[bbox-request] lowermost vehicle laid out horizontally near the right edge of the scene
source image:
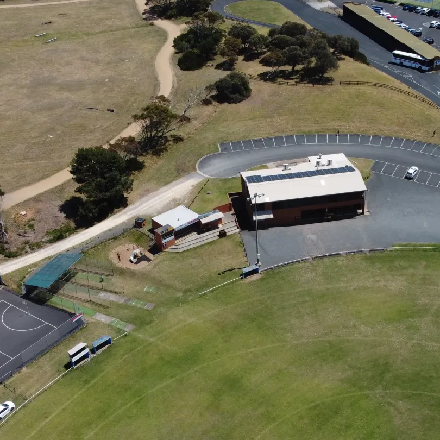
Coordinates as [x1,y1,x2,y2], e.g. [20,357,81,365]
[392,52,431,70]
